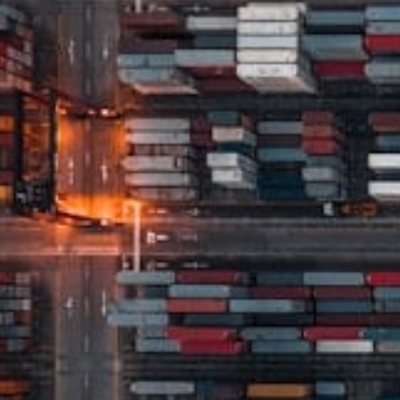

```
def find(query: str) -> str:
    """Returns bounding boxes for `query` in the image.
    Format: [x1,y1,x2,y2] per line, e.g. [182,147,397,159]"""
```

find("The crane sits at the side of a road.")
[10,73,124,226]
